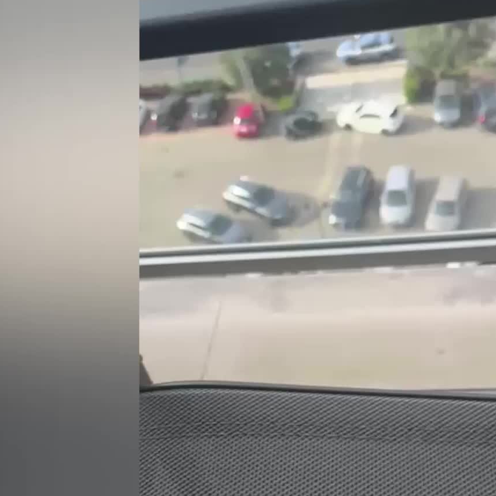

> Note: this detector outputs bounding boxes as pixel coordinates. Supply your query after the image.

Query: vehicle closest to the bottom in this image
[171,205,253,245]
